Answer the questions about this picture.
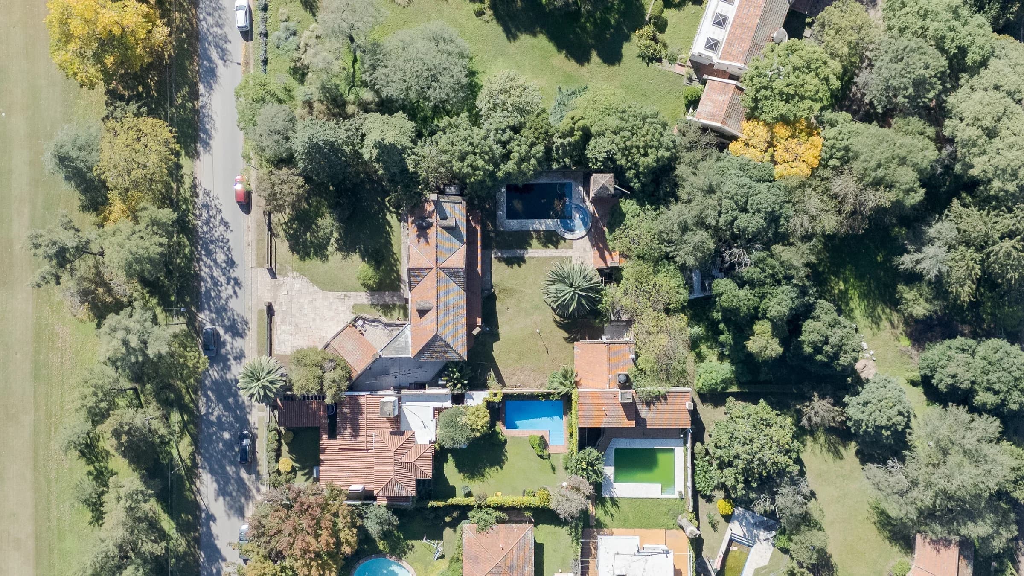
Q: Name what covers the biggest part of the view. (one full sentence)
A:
For the most part, this view shows trees.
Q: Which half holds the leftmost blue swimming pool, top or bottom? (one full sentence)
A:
It is in the bottom half that the leftmost blue swimming pool appears.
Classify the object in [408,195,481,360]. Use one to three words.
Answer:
house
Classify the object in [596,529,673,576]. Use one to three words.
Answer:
house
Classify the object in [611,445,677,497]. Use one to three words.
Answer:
swimming pool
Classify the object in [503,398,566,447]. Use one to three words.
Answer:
swimming pool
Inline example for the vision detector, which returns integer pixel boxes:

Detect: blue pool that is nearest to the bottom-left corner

[351,552,415,576]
